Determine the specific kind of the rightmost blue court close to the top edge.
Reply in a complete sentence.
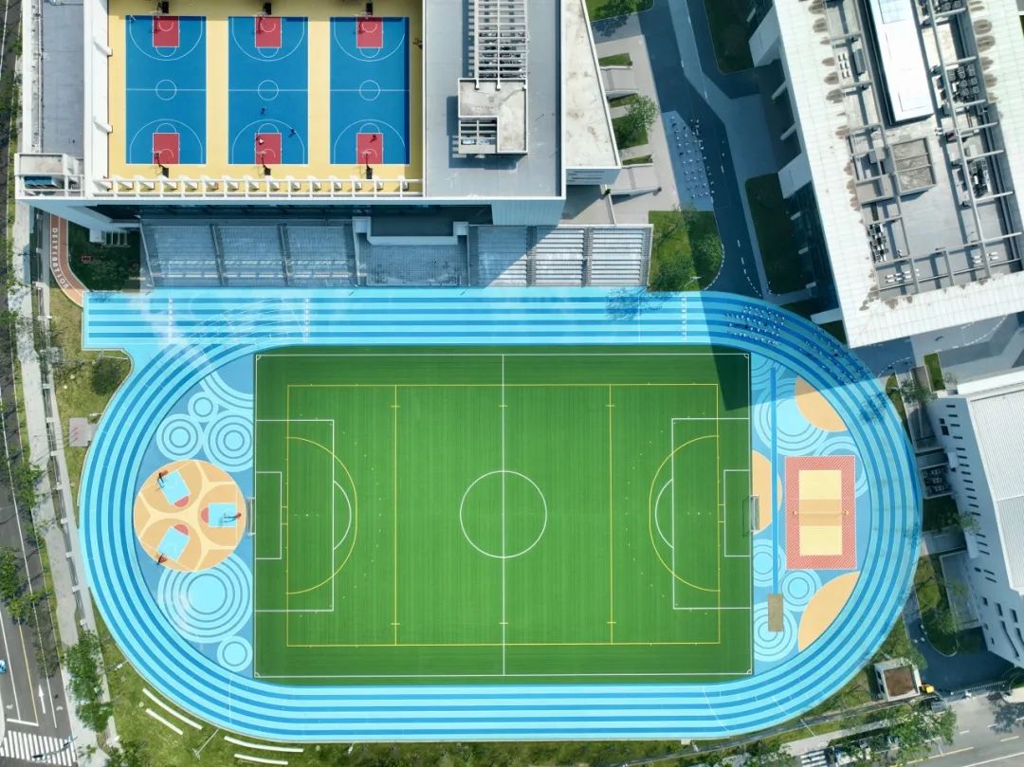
What you see as the rightmost blue court close to the top edge is a basketball court.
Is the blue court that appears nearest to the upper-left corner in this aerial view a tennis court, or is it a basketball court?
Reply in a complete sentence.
The blue court that appears nearest to the upper-left corner appears to be a basketball court.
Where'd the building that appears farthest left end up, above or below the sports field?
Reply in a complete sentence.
Within the scene, the building that appears farthest left can be found above the sports field.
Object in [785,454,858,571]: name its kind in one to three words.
sports court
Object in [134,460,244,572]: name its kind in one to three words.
basketball court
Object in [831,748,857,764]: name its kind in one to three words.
vehicle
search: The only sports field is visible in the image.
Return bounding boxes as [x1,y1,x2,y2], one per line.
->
[253,344,754,687]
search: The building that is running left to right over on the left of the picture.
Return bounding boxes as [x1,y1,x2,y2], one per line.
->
[13,0,565,245]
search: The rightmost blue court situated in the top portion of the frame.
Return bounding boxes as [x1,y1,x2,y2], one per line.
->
[329,16,410,165]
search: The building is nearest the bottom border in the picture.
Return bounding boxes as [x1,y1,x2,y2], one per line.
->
[866,655,920,702]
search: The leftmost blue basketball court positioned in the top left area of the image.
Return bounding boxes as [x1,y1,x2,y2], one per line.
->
[124,16,207,165]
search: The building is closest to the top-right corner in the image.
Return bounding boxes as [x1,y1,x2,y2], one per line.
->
[749,0,1024,347]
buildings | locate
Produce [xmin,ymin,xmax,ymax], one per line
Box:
[935,369,1024,671]
[749,0,1024,347]
[13,0,565,245]
[866,655,920,702]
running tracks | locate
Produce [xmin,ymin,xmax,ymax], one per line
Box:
[76,287,927,744]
